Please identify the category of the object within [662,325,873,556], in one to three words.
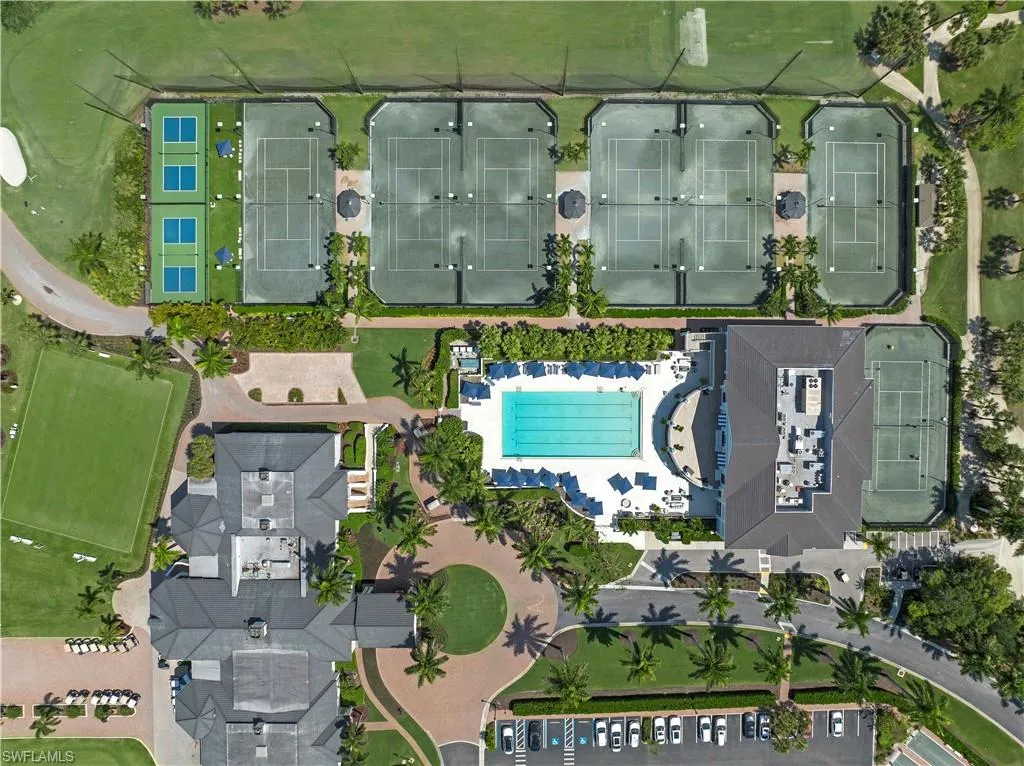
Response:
building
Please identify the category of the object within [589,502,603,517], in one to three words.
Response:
umbrella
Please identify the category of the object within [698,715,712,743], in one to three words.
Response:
car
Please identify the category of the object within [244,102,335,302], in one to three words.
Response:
tennis court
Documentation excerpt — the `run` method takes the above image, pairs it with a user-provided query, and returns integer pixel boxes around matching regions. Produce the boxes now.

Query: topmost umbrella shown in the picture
[216,139,234,158]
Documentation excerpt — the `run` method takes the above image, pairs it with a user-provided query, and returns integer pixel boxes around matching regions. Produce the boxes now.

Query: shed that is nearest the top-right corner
[915,185,935,229]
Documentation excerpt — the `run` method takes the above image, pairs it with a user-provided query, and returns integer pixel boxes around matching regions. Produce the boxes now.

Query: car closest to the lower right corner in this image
[829,710,843,738]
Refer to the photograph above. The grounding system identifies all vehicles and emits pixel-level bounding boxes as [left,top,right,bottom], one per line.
[109,687,126,705]
[65,687,82,705]
[71,637,86,654]
[668,715,682,744]
[89,638,103,653]
[99,639,112,653]
[91,687,107,705]
[757,714,770,741]
[119,687,136,704]
[528,720,541,751]
[610,723,623,751]
[628,720,641,748]
[652,716,666,745]
[125,632,142,649]
[128,690,144,708]
[742,713,756,740]
[80,636,95,652]
[595,719,608,747]
[502,724,515,753]
[117,637,130,654]
[159,657,173,667]
[713,716,728,746]
[698,715,712,743]
[108,637,124,654]
[829,710,843,738]
[76,687,93,705]
[100,687,117,705]
[432,495,443,510]
[63,636,79,653]
[833,566,849,582]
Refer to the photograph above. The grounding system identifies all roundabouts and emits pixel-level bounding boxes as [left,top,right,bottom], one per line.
[415,563,508,656]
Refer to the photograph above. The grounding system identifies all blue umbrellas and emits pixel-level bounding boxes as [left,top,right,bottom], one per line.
[528,362,545,378]
[565,360,584,380]
[582,361,599,378]
[476,384,492,399]
[562,474,580,492]
[614,362,630,379]
[628,361,646,381]
[502,361,520,379]
[642,476,657,491]
[571,491,588,508]
[612,476,633,496]
[488,362,505,379]
[215,245,236,266]
[589,502,603,517]
[599,362,614,378]
[539,470,558,490]
[525,471,539,486]
[462,381,479,398]
[506,469,524,488]
[216,139,234,158]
